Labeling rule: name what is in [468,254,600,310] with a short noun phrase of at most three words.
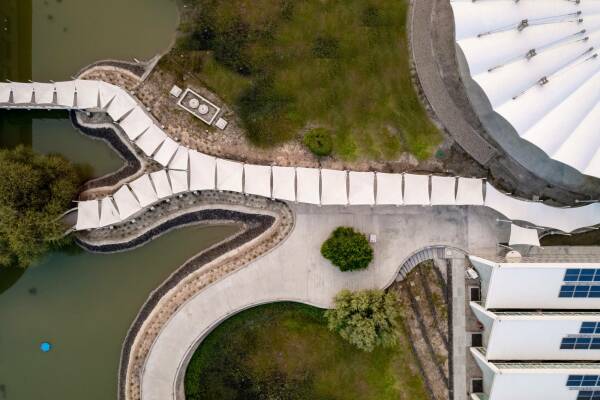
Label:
building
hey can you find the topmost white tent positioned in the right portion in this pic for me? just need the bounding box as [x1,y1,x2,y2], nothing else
[451,0,600,176]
